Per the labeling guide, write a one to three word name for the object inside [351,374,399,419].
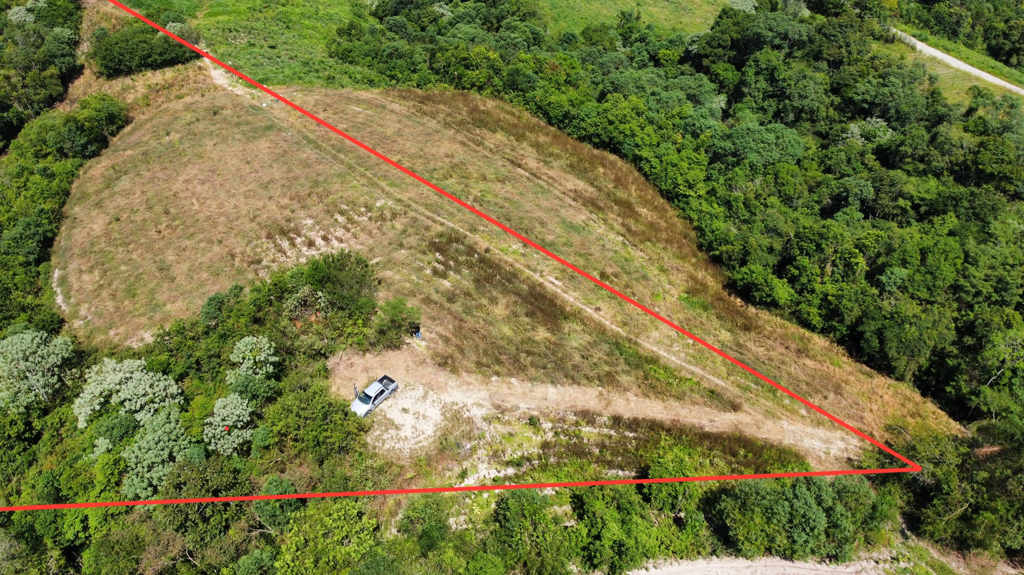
truck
